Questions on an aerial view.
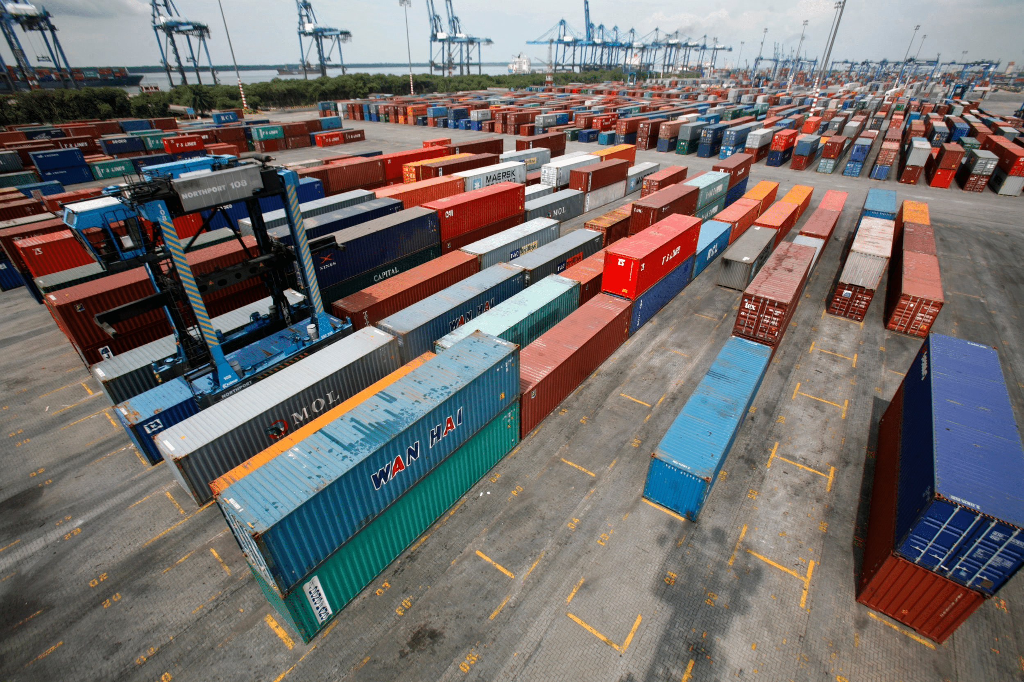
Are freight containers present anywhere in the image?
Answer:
Yes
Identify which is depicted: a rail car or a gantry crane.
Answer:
gantry crane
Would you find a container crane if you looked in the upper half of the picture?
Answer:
Yes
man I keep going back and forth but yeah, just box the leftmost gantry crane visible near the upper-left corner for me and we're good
[2,0,92,91]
